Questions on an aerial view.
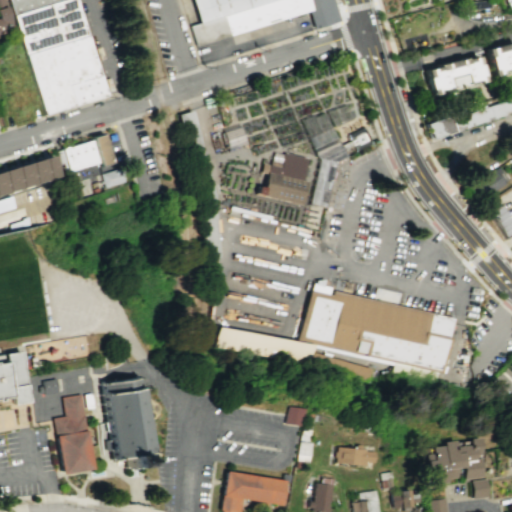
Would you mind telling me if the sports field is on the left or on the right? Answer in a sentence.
The sports field is on the left side of the image.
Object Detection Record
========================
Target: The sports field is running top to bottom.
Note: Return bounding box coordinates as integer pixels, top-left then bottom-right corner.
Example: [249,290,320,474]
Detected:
[0,233,49,341]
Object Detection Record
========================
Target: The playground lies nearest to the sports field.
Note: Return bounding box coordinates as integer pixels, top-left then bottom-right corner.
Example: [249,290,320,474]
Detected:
[26,336,88,362]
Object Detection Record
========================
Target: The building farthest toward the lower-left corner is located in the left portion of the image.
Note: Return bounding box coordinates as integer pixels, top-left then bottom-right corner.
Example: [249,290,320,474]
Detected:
[58,431,97,474]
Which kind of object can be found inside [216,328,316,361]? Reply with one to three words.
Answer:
shed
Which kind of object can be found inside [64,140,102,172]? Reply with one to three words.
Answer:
building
